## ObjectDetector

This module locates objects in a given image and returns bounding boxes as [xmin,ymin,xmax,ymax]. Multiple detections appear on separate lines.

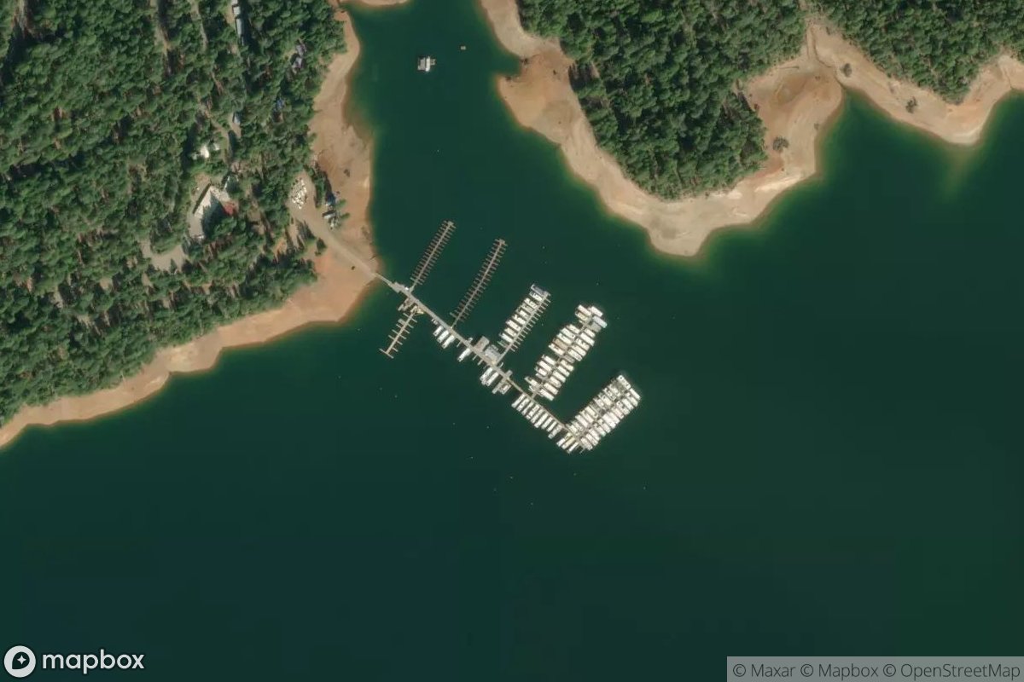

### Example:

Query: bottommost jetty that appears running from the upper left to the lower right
[388,282,585,453]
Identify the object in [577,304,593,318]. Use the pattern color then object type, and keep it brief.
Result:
white boat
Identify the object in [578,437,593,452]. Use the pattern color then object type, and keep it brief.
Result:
white boat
